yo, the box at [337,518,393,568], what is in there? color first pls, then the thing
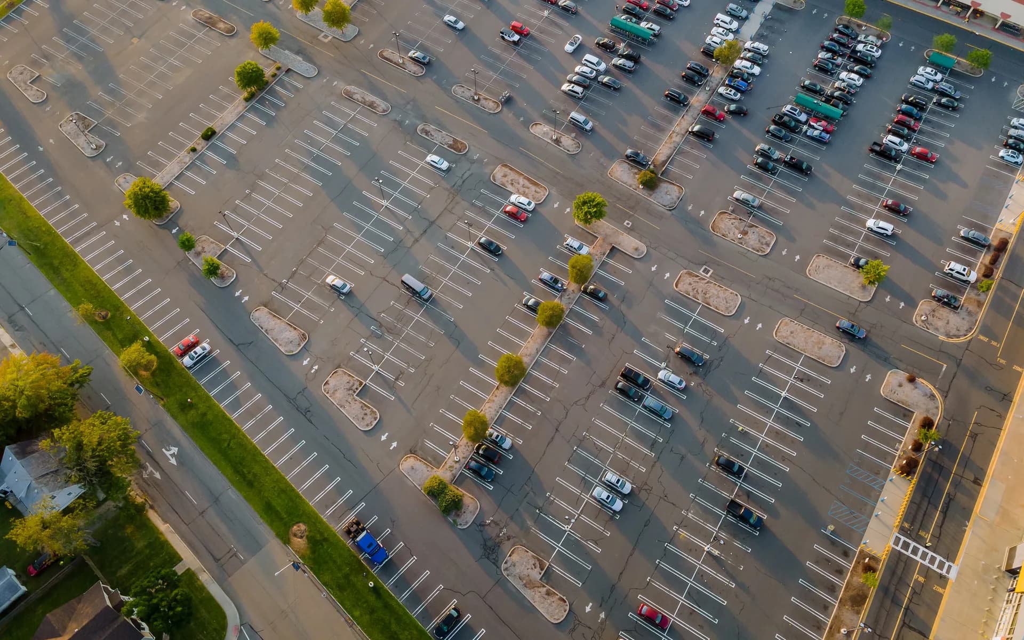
blue truck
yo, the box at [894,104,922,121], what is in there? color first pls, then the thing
blue car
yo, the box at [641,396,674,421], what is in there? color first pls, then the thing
blue car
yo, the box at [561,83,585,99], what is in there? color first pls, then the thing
white car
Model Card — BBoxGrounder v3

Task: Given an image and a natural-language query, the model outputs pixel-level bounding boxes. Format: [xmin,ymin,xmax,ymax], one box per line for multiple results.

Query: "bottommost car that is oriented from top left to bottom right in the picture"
[635,602,672,633]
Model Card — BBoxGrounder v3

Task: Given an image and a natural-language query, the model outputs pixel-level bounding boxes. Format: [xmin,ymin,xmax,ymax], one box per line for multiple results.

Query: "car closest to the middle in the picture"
[518,295,540,313]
